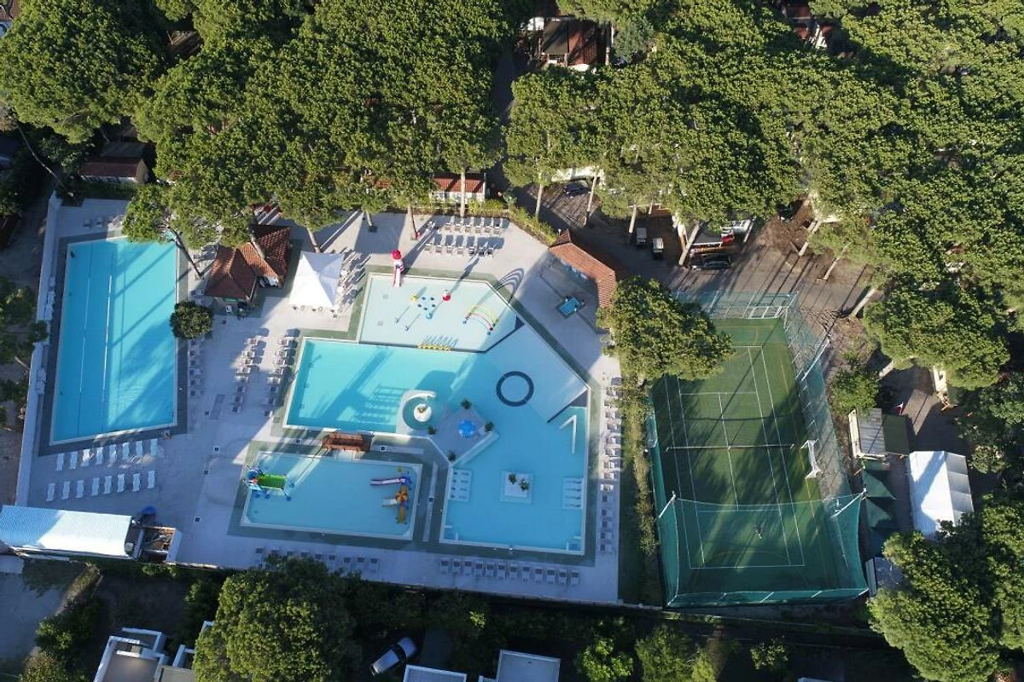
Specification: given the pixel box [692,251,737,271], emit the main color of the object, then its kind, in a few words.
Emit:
black car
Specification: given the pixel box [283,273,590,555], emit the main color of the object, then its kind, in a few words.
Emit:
blue swimming pool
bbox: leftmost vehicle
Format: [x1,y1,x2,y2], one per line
[367,636,418,678]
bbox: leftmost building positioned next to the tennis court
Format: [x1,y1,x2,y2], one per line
[549,228,635,319]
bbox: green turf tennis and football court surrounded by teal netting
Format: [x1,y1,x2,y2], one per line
[646,319,841,600]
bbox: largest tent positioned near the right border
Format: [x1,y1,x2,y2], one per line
[898,452,977,546]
